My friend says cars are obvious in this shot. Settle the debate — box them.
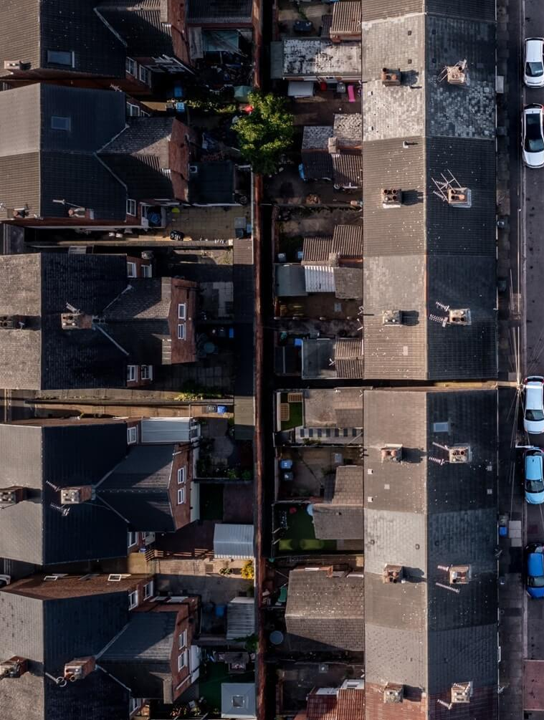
[520,376,544,433]
[519,447,544,504]
[522,103,544,169]
[524,37,544,87]
[520,542,544,598]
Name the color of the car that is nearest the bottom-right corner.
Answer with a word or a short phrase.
blue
